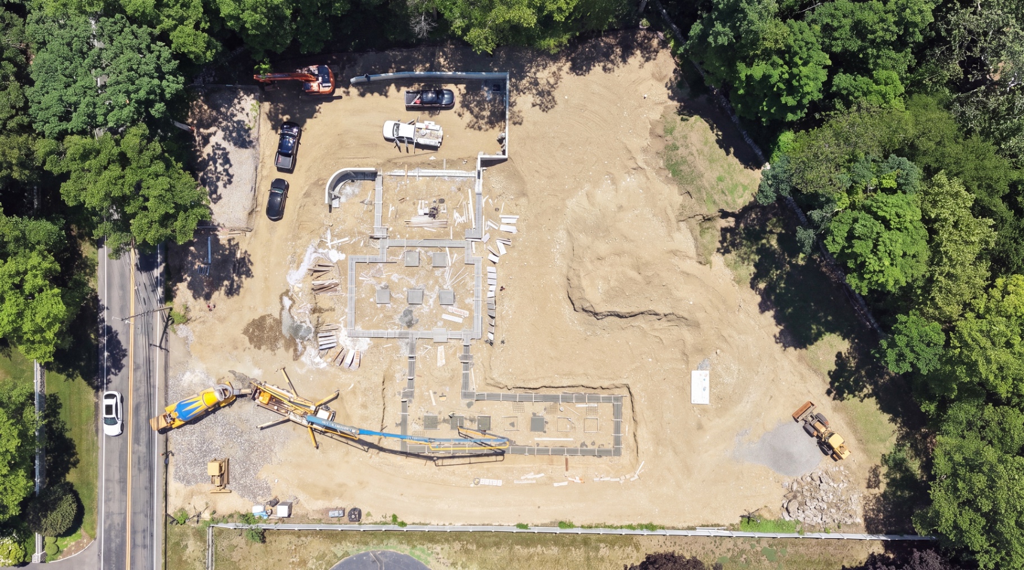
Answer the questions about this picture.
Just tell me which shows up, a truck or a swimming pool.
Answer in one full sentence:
I can see a truck in this picture.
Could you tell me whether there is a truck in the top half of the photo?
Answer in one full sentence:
Yes, a truck is visible in the top half of the photo.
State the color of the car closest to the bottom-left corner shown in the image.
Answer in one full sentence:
The car closest to the bottom-left corner looks white in the image.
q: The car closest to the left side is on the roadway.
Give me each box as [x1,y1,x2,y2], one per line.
[101,391,125,436]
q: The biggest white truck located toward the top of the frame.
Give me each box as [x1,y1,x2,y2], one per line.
[385,120,444,153]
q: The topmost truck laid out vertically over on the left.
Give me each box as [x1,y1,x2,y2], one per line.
[275,120,301,174]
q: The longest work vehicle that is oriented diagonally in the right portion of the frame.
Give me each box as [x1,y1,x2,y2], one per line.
[791,401,850,461]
